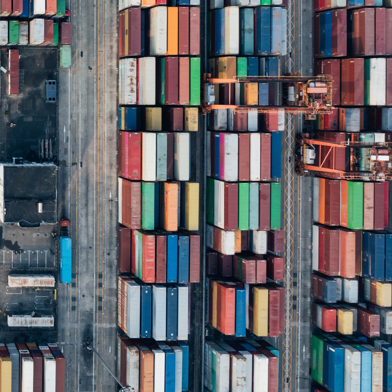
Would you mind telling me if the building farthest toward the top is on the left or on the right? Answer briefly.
left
